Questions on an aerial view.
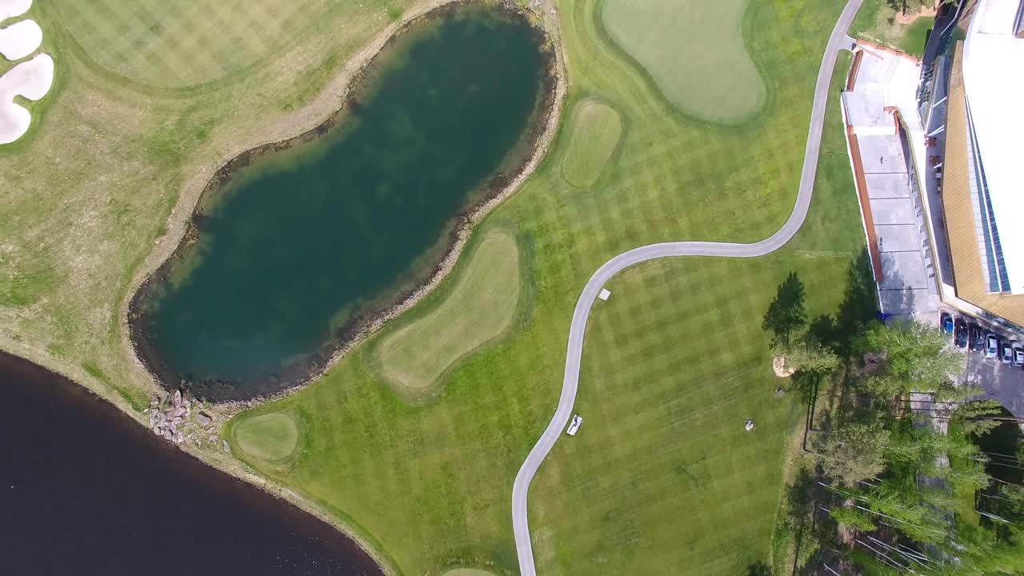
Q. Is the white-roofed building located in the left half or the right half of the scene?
right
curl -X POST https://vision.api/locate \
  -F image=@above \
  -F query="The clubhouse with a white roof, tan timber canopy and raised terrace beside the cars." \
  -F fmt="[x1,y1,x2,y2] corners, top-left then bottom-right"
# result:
[839,0,1024,349]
